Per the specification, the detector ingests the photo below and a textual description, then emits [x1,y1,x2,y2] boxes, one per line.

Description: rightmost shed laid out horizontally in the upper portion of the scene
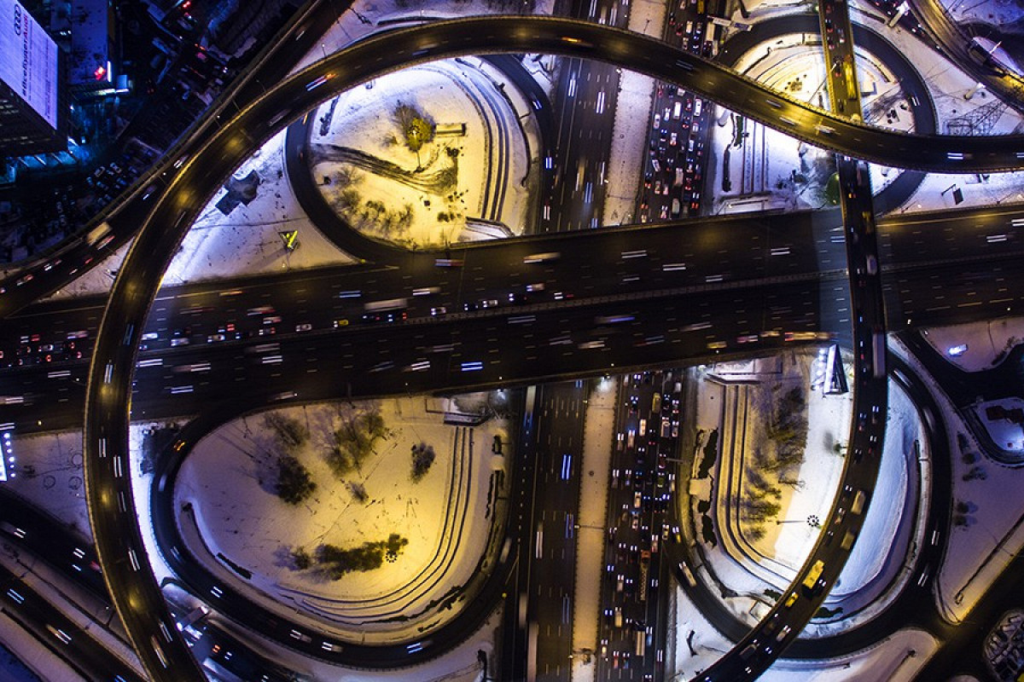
[436,121,464,134]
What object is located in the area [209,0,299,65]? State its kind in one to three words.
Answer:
building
